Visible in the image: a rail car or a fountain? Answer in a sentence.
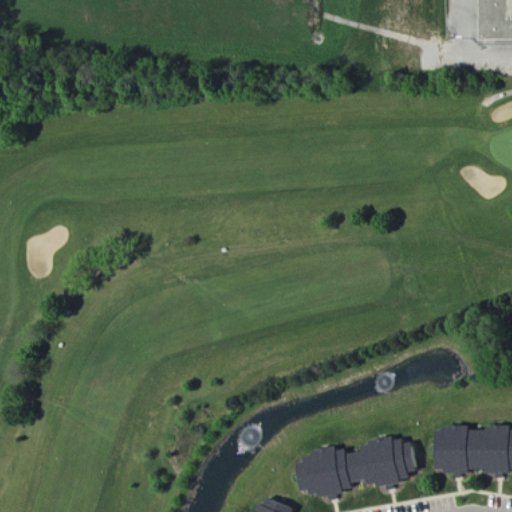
Of the two, only a fountain appears.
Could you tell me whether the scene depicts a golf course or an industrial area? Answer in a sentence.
The area seen from above is a golf course.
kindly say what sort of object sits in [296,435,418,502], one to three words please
house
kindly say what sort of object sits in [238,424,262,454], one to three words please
fountain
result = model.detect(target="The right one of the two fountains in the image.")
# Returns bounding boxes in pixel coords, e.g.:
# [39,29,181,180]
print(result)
[376,372,396,391]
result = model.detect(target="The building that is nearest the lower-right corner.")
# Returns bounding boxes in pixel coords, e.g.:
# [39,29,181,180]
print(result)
[434,425,512,480]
